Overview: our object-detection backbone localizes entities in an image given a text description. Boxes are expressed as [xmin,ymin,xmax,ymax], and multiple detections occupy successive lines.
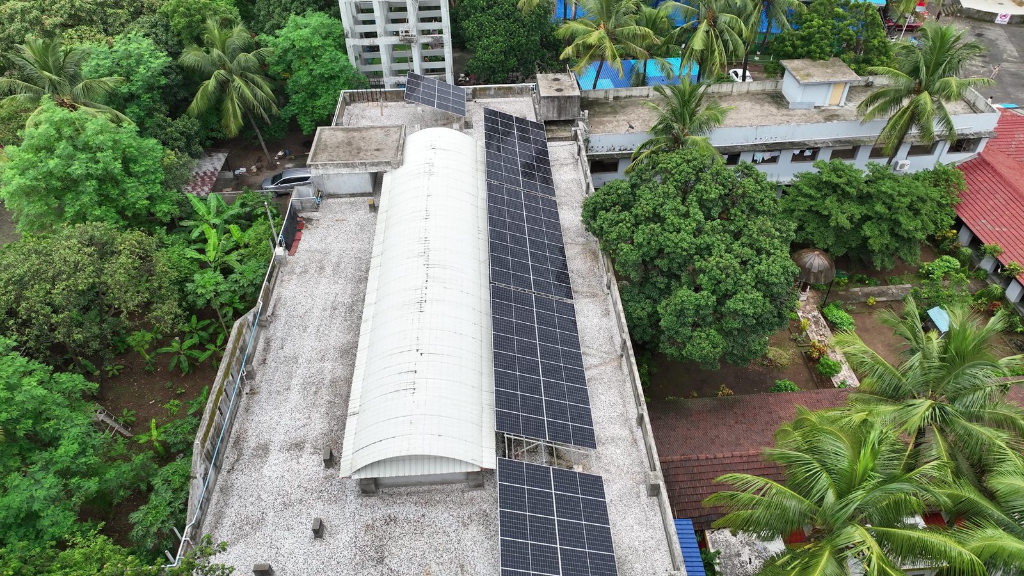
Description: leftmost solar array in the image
[404,71,466,129]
